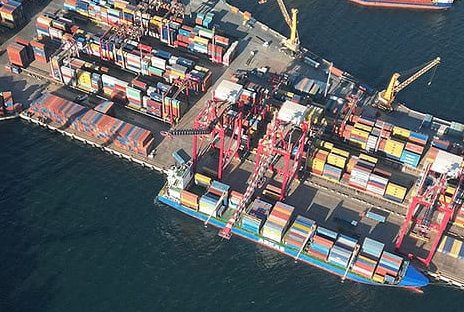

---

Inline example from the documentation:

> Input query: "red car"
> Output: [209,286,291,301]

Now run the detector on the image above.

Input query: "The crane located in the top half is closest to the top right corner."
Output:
[373,59,438,115]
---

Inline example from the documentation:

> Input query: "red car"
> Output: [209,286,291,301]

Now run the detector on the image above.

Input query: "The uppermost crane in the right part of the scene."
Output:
[277,0,305,55]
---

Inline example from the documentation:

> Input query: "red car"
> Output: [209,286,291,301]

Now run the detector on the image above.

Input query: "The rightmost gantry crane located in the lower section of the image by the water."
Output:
[392,142,464,263]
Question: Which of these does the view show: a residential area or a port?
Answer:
port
